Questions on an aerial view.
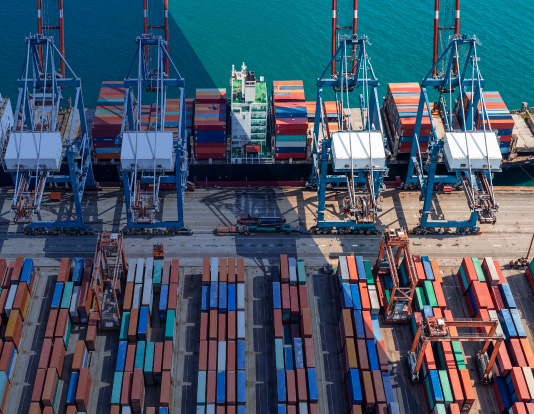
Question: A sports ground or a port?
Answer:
port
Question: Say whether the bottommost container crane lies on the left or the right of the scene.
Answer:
right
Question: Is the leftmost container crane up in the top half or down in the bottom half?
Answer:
top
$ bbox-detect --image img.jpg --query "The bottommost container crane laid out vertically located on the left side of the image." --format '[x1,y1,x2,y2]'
[88,236,127,321]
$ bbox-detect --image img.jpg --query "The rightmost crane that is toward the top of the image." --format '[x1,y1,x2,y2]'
[400,0,504,232]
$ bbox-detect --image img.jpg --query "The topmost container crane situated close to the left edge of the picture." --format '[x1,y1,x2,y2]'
[1,0,105,232]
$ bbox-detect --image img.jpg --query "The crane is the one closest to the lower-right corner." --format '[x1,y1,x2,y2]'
[408,313,505,382]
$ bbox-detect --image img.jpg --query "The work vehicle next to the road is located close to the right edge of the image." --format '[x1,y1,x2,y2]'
[500,245,534,283]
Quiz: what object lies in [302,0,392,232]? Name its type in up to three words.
container crane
